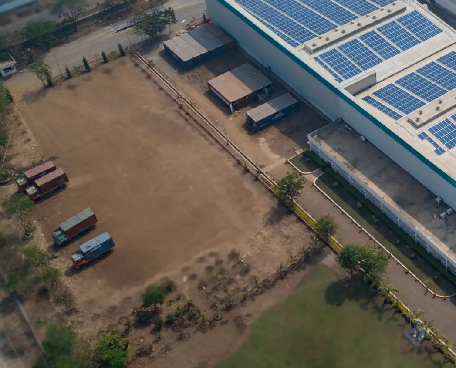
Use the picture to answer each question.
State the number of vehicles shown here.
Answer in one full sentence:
I count 4 vehicles.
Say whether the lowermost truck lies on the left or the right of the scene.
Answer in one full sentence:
The lowermost truck sits on the left side.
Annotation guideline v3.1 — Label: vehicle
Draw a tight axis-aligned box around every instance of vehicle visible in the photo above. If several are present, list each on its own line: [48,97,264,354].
[12,158,56,192]
[70,231,116,269]
[24,165,69,198]
[50,205,101,244]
